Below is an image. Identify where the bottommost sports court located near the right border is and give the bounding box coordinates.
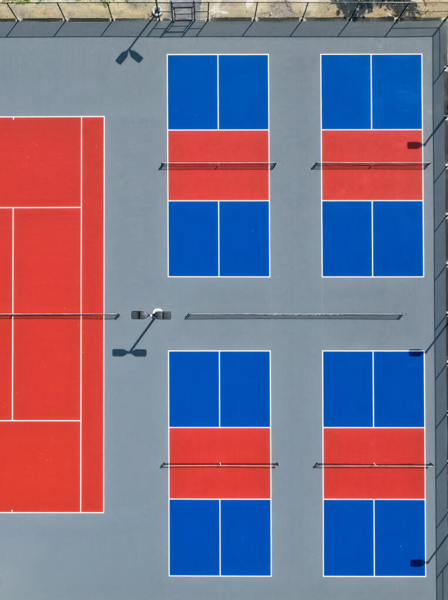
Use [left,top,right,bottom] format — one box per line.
[322,351,426,577]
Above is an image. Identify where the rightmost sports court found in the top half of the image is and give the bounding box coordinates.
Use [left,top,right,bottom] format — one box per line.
[320,54,424,277]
